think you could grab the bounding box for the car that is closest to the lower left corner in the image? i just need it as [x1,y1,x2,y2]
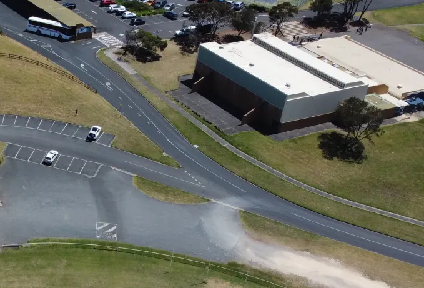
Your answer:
[42,150,59,163]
